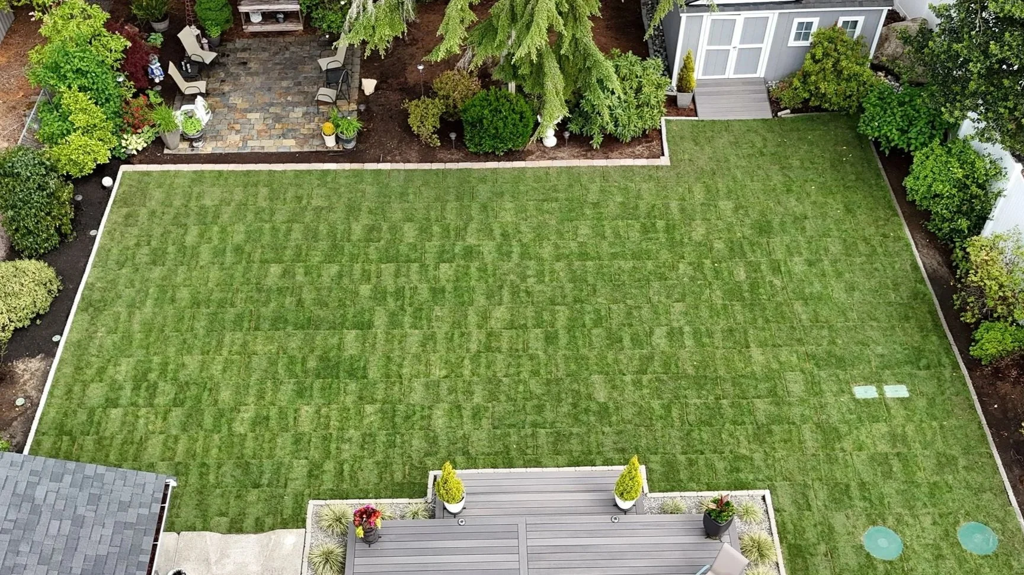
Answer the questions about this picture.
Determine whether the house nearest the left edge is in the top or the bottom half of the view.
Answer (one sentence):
The house nearest the left edge sits in the bottom half of the picture.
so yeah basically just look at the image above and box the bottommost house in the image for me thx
[0,447,177,575]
